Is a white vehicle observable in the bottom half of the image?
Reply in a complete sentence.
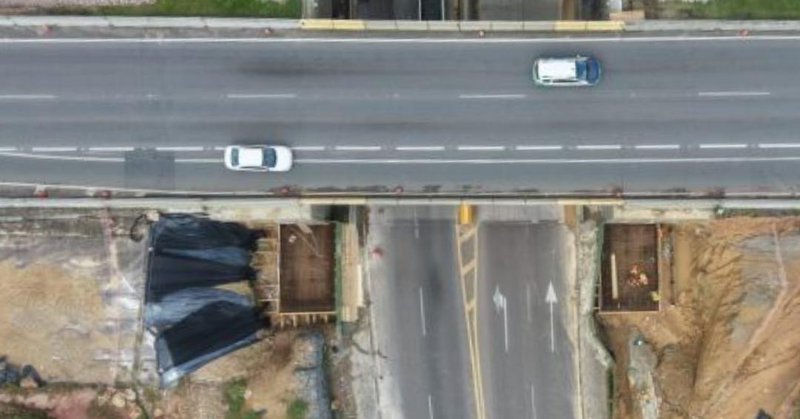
No, I can find no white vehicle in the bottom half of the image.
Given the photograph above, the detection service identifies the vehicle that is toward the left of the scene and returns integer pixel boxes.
[223,142,291,174]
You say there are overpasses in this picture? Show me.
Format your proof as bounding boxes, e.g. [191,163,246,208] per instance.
[296,24,654,205]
